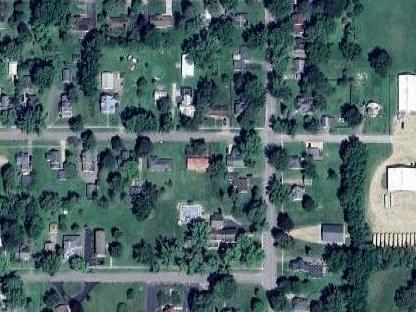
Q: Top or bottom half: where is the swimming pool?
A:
bottom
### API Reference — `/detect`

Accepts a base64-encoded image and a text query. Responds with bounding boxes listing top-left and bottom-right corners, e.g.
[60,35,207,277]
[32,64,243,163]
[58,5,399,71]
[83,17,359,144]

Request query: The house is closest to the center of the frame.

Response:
[187,156,210,173]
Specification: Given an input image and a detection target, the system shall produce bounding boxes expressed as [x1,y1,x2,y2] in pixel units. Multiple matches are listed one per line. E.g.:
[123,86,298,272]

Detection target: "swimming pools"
[178,201,201,221]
